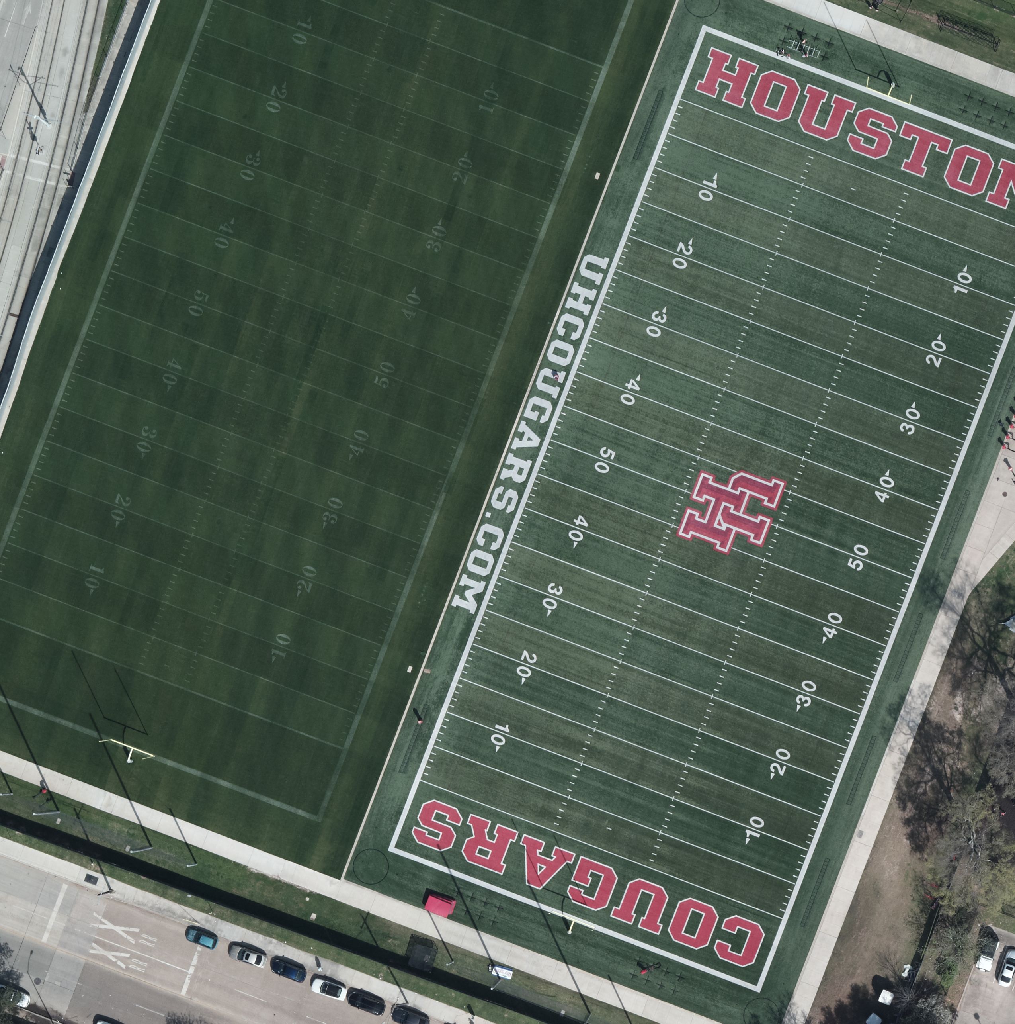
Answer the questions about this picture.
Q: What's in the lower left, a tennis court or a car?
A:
car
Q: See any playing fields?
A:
Yes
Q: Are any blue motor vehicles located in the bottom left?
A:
Yes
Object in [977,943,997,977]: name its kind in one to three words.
car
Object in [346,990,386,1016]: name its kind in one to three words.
car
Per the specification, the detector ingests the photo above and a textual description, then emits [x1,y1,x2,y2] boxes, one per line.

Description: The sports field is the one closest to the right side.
[343,0,1015,1024]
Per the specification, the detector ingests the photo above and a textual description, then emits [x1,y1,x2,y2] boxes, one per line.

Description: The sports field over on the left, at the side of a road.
[0,0,676,879]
